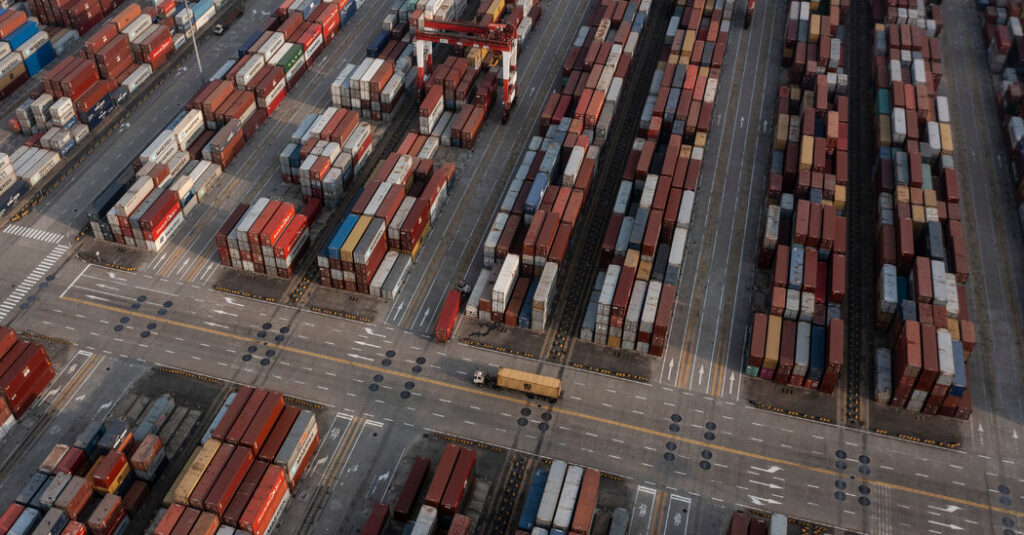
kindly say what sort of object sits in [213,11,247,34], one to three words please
truck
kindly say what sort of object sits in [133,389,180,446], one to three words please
shipping container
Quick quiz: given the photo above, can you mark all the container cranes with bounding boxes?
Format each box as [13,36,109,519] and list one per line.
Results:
[409,14,520,118]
